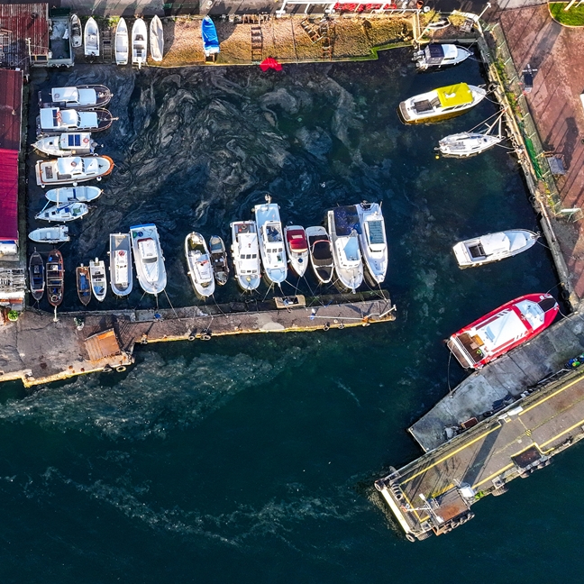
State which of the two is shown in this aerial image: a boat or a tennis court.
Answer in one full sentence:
It is a boat that can be seen here.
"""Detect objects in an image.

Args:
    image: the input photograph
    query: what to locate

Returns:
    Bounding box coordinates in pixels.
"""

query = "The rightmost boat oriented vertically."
[354,197,391,298]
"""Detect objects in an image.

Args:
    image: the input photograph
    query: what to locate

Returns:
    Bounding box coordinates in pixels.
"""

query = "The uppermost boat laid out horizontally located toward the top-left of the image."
[34,82,115,109]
